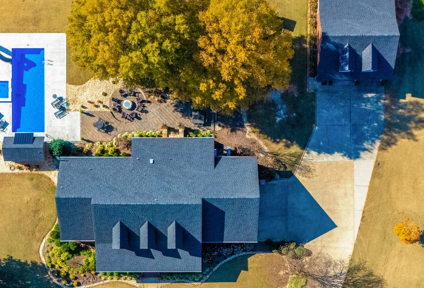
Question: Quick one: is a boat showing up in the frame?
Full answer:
No, there's no boat here.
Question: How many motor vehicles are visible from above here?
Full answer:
There are no motor vehicles in this view.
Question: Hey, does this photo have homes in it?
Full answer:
Yes, I can see a home in this picture.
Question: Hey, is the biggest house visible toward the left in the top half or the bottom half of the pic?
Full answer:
It is in the bottom half that the biggest house visible toward the left appears.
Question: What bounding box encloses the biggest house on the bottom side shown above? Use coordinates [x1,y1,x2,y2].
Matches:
[55,136,260,277]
